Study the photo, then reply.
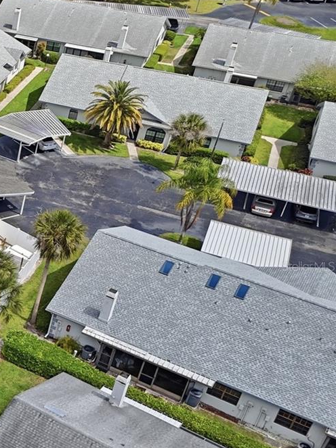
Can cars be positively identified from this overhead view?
Yes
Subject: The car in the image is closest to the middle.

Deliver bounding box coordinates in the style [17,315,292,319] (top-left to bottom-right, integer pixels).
[253,195,279,217]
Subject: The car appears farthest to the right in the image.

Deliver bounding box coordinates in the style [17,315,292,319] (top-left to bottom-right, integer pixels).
[292,205,318,222]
